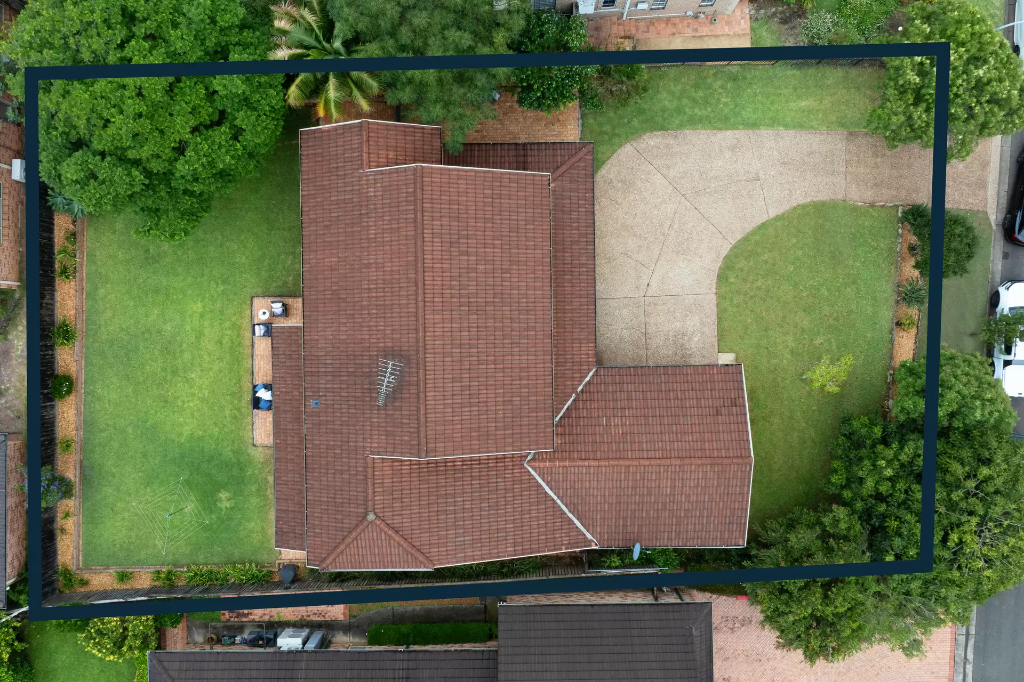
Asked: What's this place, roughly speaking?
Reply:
residential area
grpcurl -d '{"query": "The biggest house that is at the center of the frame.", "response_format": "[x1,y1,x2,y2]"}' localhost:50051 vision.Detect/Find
[298,119,755,573]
